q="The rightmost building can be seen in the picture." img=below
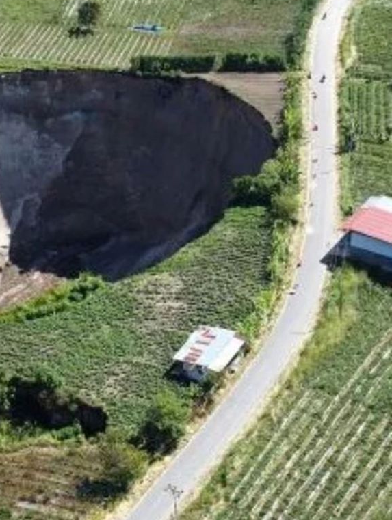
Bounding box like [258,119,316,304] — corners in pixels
[340,195,392,263]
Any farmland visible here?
Yes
